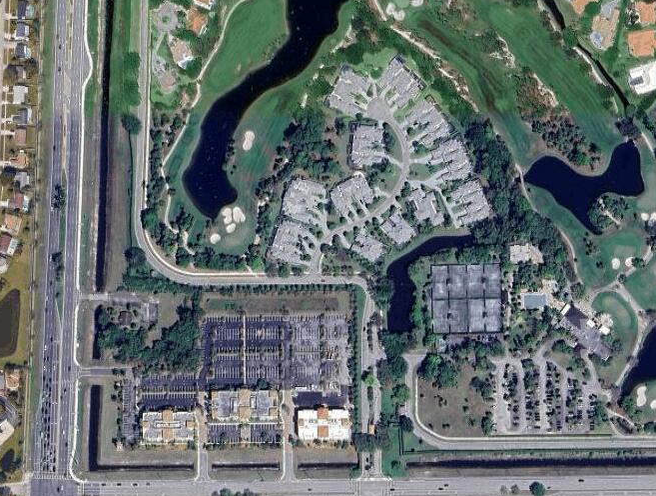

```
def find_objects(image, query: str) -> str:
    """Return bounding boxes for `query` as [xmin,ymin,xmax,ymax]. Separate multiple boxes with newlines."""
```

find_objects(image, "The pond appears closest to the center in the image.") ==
[389,233,473,332]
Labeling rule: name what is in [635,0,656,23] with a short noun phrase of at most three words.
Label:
house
